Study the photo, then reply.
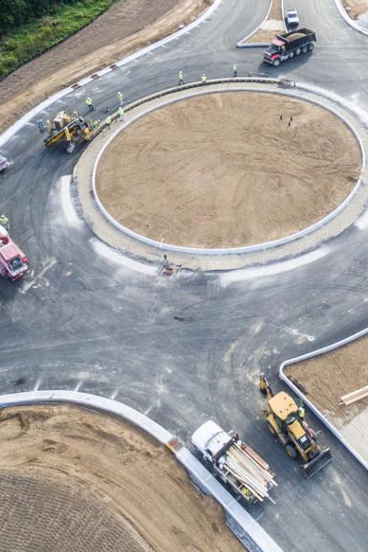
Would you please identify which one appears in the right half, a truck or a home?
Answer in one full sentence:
Looking in the right half, you will find a truck.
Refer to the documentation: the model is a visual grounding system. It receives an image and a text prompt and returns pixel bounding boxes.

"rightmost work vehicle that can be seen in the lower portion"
[258,374,335,479]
